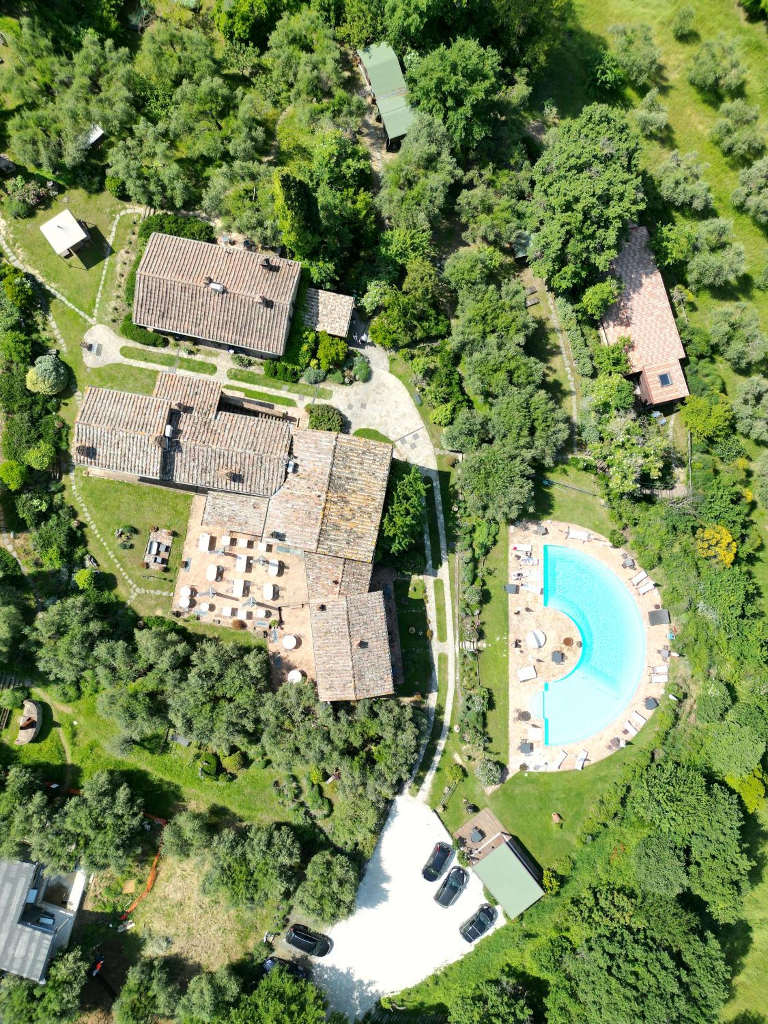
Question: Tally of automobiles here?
five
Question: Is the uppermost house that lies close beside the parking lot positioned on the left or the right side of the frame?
left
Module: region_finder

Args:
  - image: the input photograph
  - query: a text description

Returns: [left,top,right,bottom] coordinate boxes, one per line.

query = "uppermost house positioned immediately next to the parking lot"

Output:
[72,371,395,702]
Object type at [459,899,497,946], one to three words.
car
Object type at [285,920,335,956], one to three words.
car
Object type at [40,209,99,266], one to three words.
gazebo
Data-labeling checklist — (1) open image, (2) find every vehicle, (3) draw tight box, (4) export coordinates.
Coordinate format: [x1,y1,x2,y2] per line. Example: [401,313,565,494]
[420,838,455,883]
[260,949,309,980]
[459,899,497,946]
[285,920,335,956]
[433,863,468,911]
